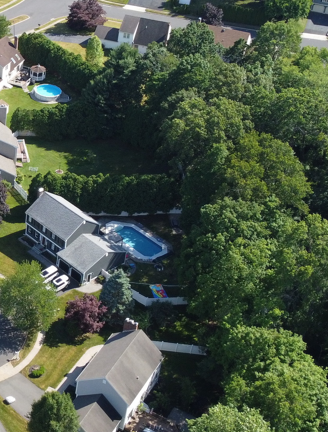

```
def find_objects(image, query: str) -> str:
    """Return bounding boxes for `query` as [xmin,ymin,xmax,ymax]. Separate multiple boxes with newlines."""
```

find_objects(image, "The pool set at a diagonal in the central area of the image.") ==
[105,221,167,261]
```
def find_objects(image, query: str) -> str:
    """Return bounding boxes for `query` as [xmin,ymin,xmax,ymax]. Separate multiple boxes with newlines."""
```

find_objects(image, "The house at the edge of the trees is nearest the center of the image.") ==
[25,185,123,284]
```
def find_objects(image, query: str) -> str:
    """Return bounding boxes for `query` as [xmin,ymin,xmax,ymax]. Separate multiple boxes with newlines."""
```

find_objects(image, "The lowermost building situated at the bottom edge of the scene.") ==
[75,317,167,432]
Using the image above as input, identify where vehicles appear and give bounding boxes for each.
[46,263,59,282]
[50,273,71,292]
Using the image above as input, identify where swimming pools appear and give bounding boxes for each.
[30,83,75,104]
[105,221,167,261]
